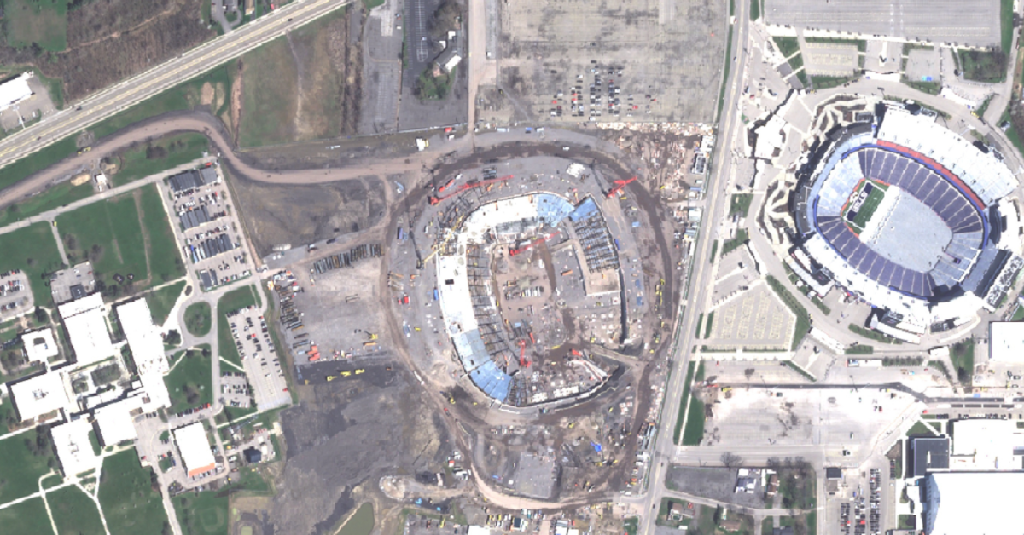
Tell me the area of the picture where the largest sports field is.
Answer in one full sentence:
Look in the right portion of the view to spot the largest sports field.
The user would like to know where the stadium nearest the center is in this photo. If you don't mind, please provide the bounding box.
[434,176,632,412]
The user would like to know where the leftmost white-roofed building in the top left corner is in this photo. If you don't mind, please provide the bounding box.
[0,71,33,109]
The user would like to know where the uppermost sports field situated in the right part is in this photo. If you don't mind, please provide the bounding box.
[841,178,952,274]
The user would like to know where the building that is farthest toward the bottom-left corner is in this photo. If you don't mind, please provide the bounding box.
[48,419,96,478]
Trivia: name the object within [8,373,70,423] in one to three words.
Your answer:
building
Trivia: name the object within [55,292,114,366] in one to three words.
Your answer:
building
